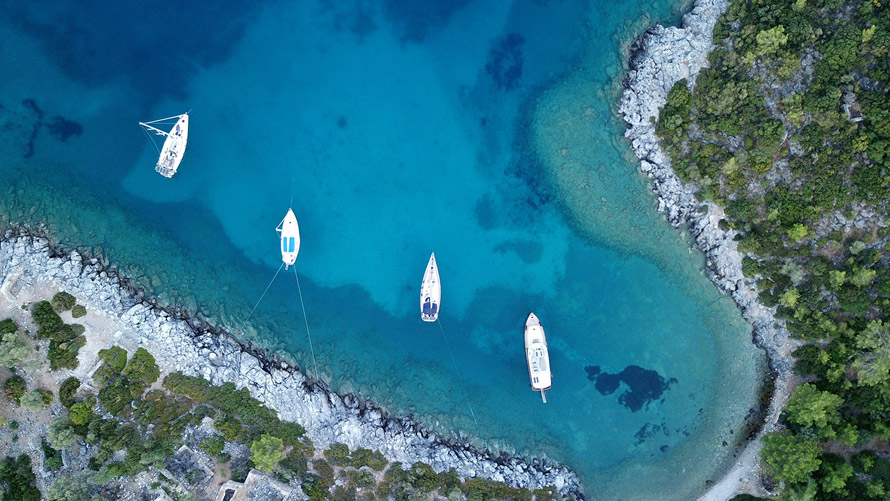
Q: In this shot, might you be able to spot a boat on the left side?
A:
Yes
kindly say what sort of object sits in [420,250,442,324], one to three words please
boat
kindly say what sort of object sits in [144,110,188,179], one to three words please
boat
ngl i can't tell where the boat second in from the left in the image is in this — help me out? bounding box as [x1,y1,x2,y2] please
[275,207,298,270]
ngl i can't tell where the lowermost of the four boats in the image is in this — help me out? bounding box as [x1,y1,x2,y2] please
[526,311,554,401]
